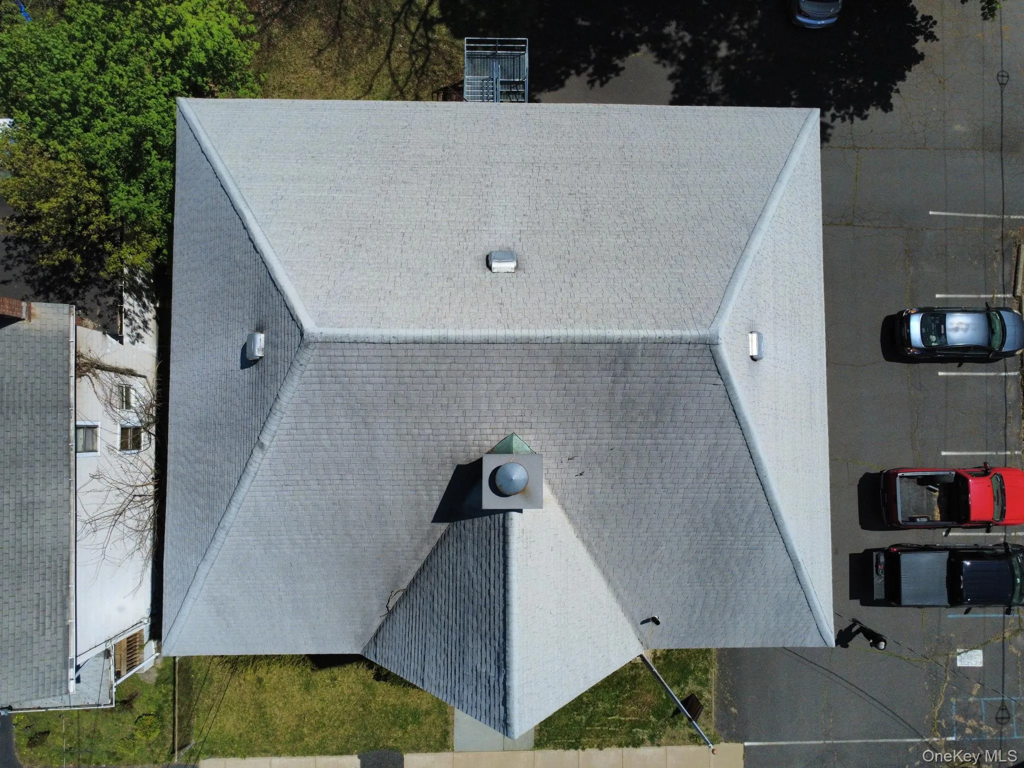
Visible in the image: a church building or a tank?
church building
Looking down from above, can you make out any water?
No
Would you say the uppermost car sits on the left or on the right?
right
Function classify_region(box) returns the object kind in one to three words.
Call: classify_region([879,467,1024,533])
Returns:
truck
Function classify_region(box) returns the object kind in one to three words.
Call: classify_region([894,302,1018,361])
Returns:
car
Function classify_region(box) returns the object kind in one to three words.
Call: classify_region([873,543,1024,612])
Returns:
truck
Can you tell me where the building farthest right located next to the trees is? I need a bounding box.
[162,97,836,742]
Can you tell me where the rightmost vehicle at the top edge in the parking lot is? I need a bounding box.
[787,0,843,32]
